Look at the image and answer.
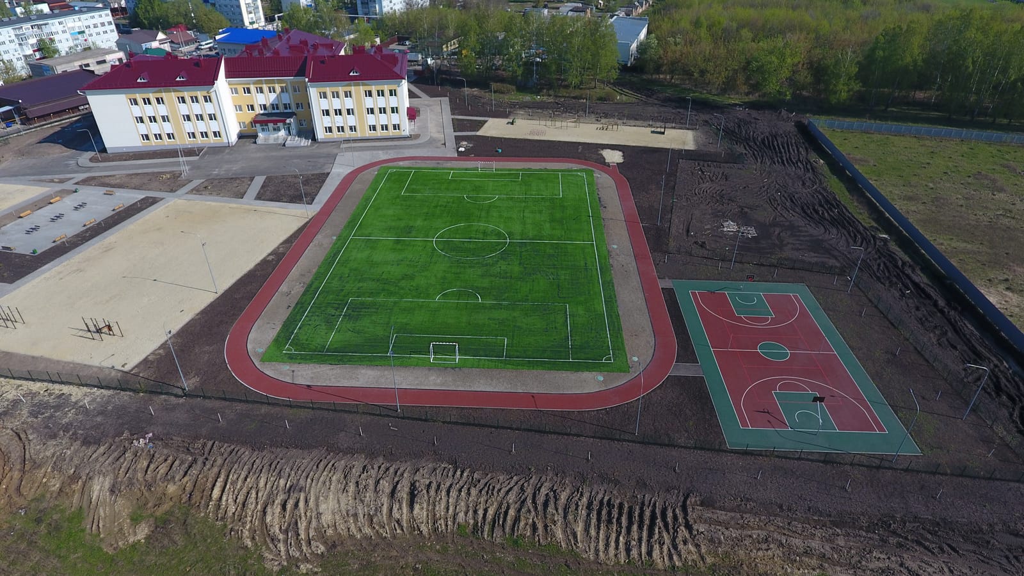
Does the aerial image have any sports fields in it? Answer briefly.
Yes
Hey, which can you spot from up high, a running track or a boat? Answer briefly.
running track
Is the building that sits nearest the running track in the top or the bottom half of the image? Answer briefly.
top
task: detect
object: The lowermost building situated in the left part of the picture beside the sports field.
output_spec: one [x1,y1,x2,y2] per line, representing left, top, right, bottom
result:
[81,20,423,152]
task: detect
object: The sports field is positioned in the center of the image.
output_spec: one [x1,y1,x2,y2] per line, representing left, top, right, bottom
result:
[261,166,630,372]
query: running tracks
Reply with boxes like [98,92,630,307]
[223,156,677,409]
